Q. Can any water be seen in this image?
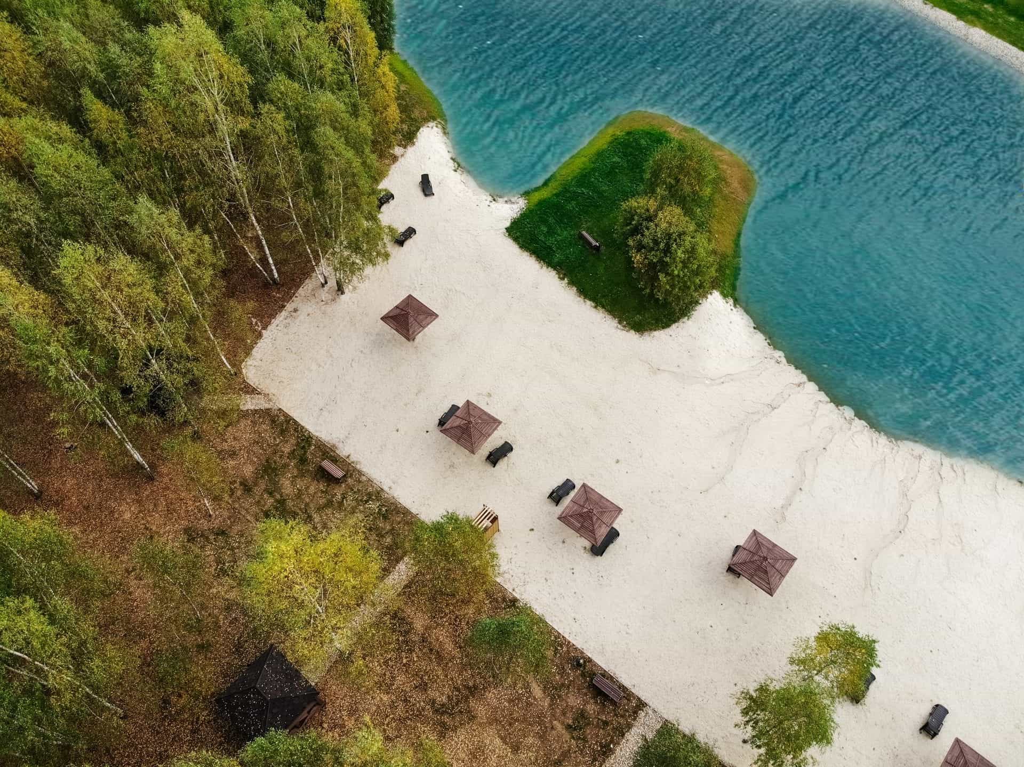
Yes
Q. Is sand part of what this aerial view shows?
Yes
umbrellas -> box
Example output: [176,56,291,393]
[729,528,798,596]
[557,483,624,546]
[380,294,439,342]
[439,399,503,455]
[941,737,999,767]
